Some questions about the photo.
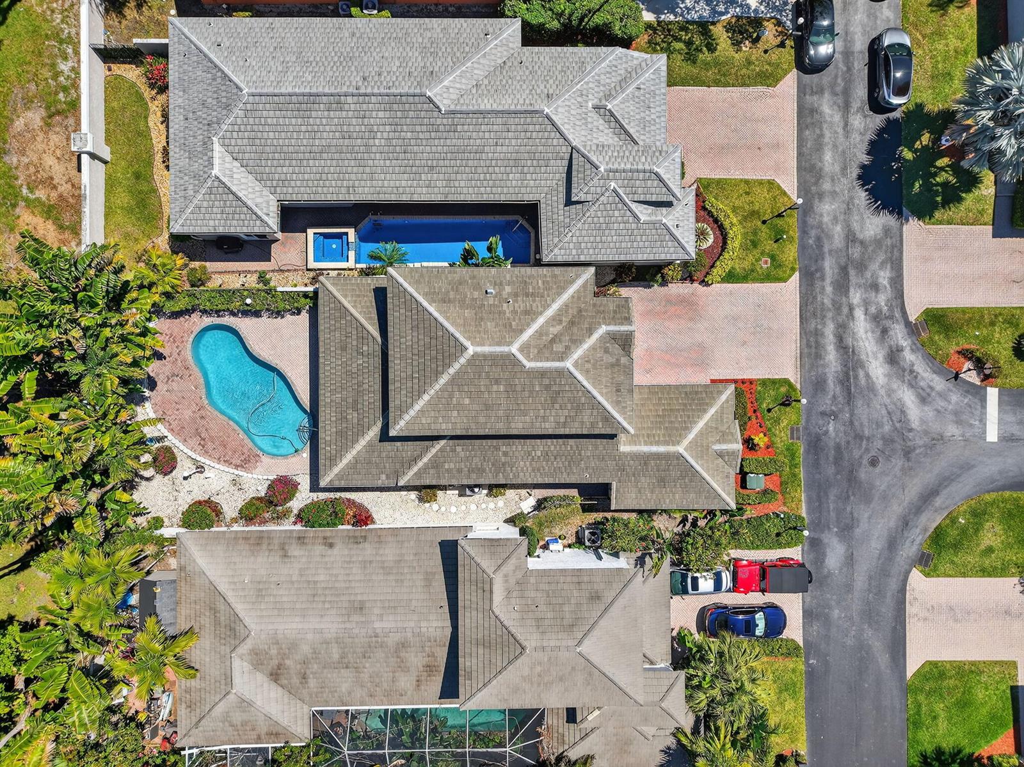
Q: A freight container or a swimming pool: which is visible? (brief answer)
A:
swimming pool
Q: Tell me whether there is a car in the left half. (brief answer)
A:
No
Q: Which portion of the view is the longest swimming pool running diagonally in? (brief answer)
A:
left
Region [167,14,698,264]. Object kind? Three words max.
house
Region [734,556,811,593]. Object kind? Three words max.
car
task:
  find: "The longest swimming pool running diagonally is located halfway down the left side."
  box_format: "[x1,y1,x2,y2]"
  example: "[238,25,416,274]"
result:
[187,318,317,460]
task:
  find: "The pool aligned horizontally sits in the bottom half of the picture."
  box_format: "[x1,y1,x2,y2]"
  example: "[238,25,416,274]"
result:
[360,709,545,739]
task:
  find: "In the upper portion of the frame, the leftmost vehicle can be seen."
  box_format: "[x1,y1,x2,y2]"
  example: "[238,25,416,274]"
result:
[801,0,841,74]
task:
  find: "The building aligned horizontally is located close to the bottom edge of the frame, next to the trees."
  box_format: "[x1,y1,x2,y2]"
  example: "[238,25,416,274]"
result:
[175,515,690,767]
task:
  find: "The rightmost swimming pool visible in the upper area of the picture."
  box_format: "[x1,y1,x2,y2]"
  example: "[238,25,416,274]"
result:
[352,208,537,269]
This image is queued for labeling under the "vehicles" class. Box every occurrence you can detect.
[874,30,915,109]
[734,556,811,593]
[672,563,731,598]
[801,0,841,74]
[706,602,782,639]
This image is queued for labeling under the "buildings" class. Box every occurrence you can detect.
[175,515,690,767]
[167,14,698,264]
[317,264,743,512]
